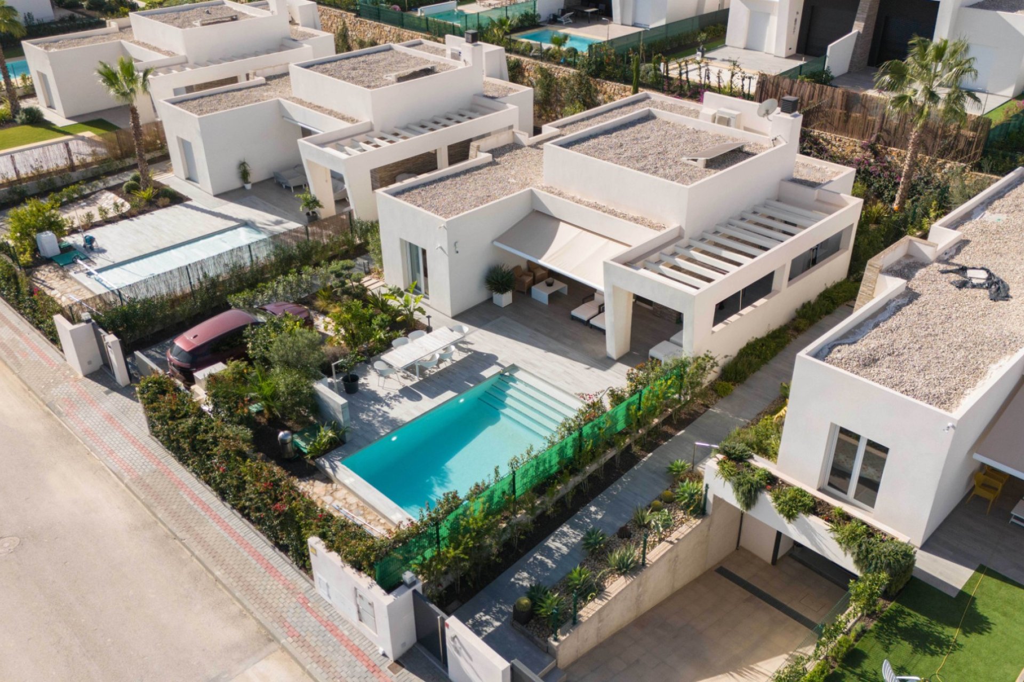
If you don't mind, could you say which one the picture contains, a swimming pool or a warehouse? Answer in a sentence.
This aerial view contains a swimming pool.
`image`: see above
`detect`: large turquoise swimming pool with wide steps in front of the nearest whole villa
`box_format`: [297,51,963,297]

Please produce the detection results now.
[341,366,595,517]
